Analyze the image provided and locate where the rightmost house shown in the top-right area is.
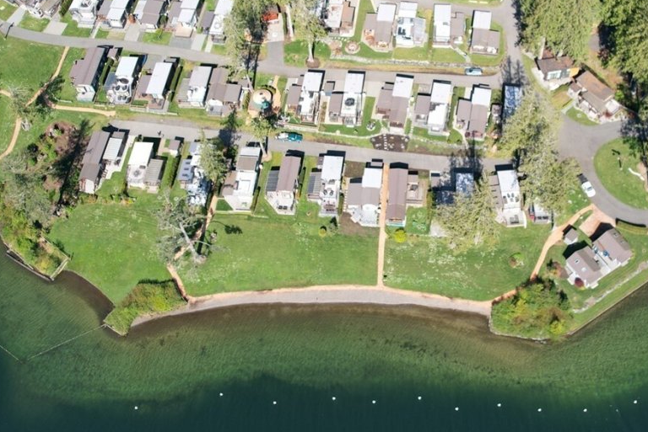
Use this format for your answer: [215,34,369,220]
[566,70,623,121]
